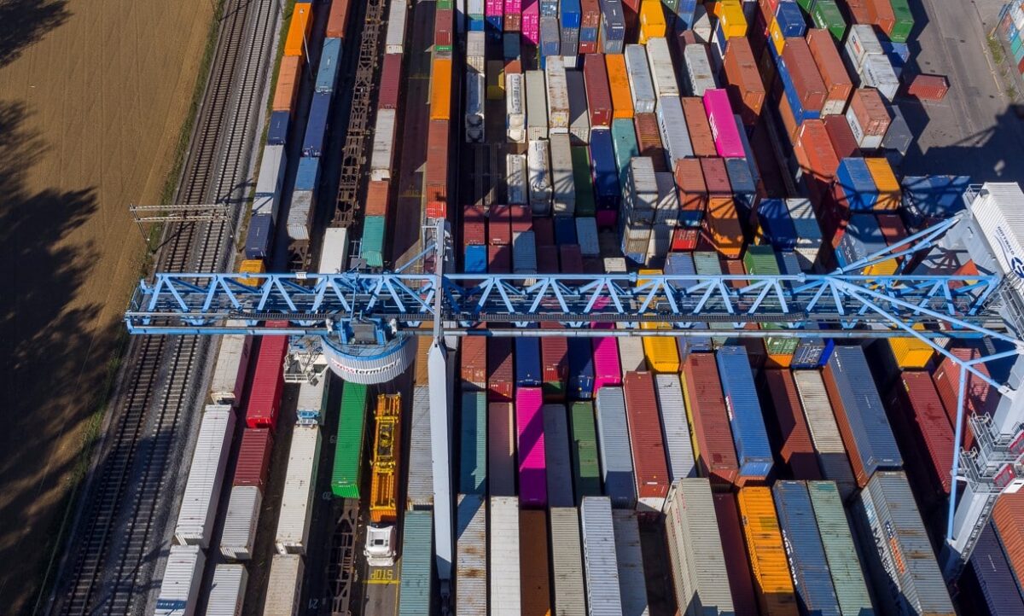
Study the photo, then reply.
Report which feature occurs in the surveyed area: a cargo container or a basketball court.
cargo container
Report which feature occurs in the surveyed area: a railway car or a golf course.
railway car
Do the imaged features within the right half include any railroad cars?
No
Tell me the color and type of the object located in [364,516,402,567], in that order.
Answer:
white truck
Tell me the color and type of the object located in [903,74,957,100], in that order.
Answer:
red shipping container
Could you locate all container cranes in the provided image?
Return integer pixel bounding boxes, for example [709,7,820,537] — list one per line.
[120,187,1024,616]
